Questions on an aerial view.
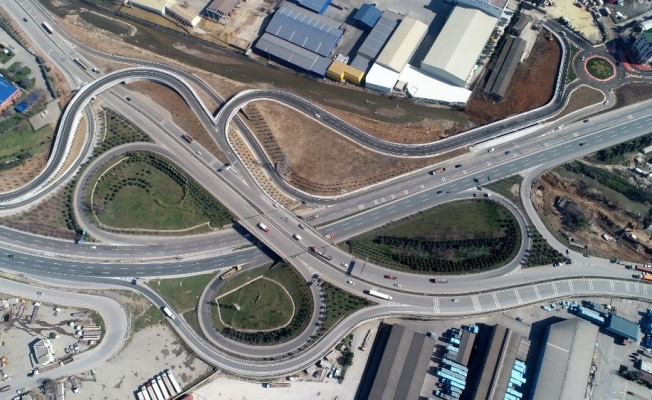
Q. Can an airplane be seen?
No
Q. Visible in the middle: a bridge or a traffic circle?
bridge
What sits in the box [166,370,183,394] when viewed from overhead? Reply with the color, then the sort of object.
white vehicle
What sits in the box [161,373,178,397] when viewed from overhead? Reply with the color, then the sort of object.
white vehicle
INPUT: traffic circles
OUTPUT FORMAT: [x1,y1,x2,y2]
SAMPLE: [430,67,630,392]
[574,47,627,89]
